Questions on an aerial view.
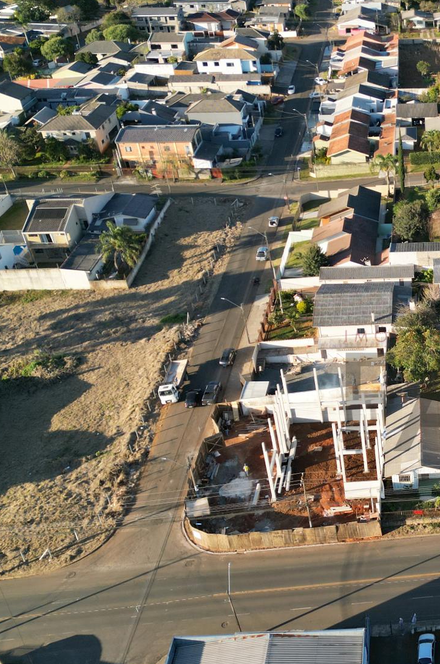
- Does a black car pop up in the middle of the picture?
Yes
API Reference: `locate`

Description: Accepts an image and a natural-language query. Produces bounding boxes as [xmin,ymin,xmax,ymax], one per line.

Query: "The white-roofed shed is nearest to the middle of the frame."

[240,382,269,417]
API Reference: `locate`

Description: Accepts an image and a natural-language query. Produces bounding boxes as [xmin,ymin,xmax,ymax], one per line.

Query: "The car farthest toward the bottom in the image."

[416,633,439,664]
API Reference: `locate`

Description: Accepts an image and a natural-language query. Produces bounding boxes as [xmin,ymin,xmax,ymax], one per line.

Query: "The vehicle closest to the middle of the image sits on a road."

[218,343,239,367]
